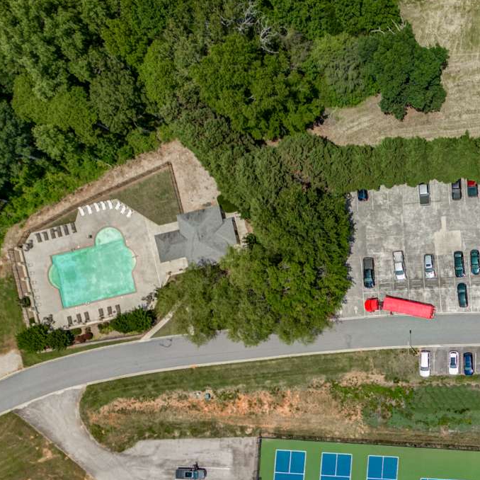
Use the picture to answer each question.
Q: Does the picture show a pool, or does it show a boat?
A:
pool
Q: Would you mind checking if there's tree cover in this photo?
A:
Yes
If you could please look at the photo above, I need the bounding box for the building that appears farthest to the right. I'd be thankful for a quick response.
[154,207,241,268]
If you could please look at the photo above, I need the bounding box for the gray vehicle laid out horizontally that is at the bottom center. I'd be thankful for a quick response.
[175,468,208,480]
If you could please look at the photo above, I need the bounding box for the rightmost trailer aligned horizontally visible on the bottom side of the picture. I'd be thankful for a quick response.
[384,296,437,319]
